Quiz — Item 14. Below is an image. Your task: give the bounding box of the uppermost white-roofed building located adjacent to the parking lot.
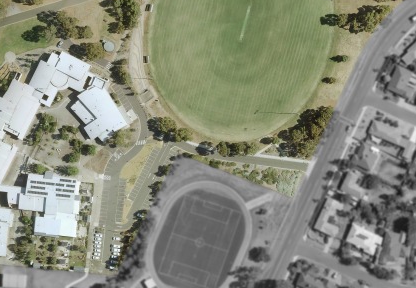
[28,50,90,108]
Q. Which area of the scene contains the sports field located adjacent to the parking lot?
bottom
